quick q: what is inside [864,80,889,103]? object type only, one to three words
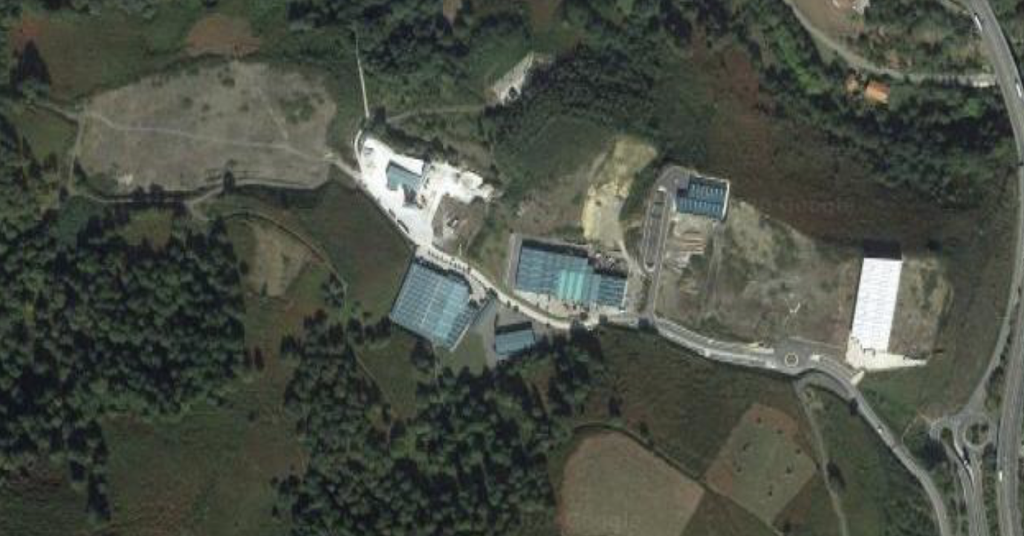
house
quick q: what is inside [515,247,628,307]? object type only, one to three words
building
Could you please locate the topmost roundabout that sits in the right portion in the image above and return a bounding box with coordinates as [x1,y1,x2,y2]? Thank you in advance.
[769,338,817,378]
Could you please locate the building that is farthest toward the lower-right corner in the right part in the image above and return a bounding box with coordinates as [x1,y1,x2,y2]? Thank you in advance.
[851,258,903,359]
